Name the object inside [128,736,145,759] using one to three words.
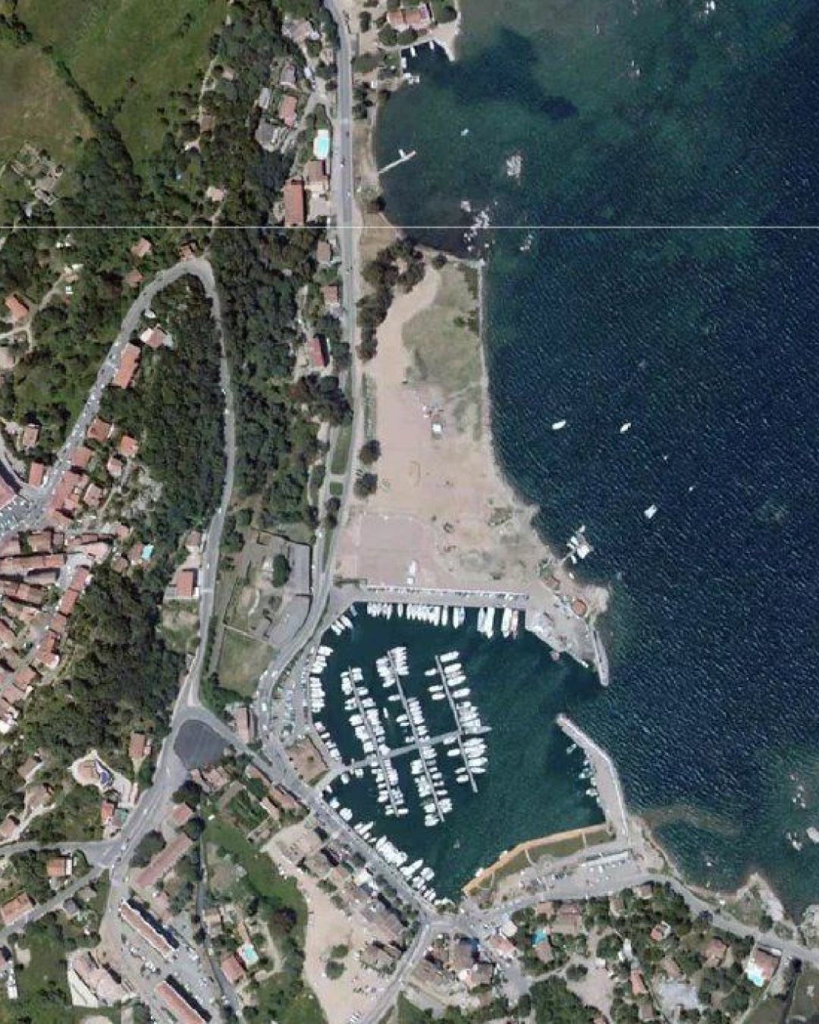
house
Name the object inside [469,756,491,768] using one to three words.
boat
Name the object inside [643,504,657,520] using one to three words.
boat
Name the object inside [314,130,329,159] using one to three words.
swimming pool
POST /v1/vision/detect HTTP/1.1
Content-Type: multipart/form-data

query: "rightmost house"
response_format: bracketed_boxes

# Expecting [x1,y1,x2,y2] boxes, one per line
[753,950,782,977]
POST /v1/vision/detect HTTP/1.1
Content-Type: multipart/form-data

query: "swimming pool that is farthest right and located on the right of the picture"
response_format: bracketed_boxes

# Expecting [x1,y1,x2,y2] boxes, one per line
[745,958,765,987]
